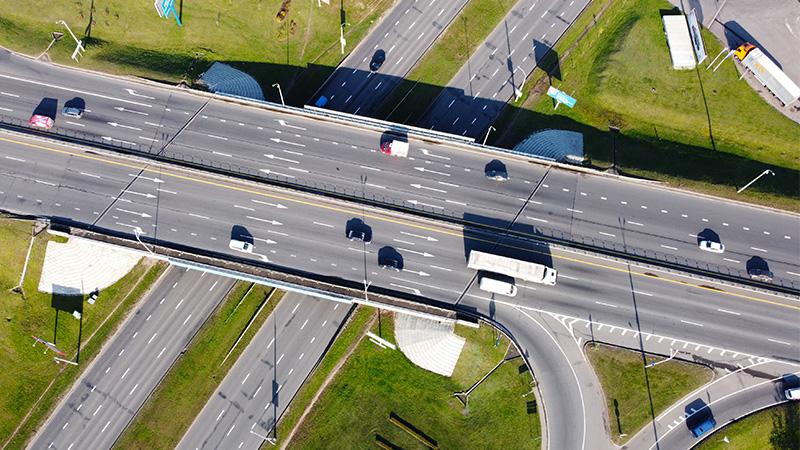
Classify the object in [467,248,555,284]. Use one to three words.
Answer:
truck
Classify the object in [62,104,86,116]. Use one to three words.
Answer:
vehicle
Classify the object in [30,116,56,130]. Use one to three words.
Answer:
vehicle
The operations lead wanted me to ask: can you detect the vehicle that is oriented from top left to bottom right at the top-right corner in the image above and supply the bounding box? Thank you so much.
[730,41,800,102]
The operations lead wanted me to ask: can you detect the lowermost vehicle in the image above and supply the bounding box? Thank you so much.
[687,413,715,433]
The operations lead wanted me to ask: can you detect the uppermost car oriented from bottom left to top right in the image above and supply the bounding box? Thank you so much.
[369,51,387,70]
